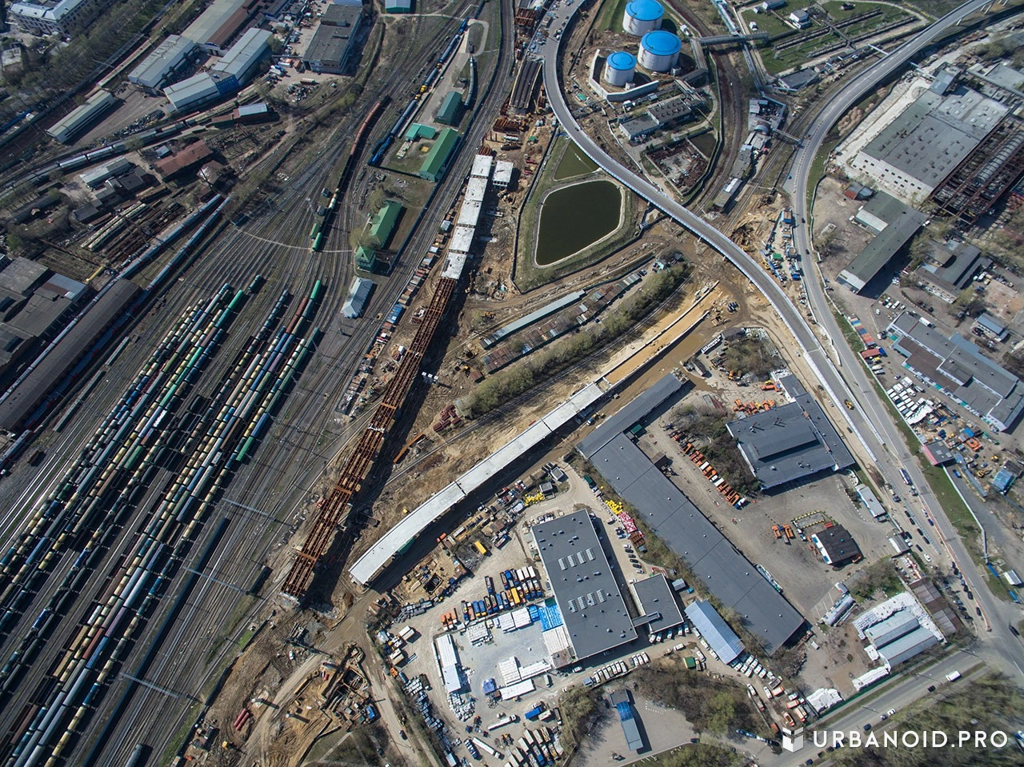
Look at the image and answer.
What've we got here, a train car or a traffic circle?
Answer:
train car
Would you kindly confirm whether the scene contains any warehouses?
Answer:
Yes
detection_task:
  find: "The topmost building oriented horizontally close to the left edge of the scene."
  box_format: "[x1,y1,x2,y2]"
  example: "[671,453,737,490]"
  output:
[10,0,111,36]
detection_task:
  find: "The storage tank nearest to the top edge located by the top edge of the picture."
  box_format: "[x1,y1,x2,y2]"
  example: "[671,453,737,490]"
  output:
[620,0,664,37]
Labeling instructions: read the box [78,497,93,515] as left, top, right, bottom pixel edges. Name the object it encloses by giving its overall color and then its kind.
black rail car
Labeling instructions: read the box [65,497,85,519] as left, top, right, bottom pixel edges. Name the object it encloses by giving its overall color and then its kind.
black rail car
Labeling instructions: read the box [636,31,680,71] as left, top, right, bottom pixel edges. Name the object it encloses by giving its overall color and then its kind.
blue storage tank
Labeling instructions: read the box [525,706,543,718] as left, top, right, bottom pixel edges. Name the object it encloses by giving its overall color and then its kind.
blue vehicle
